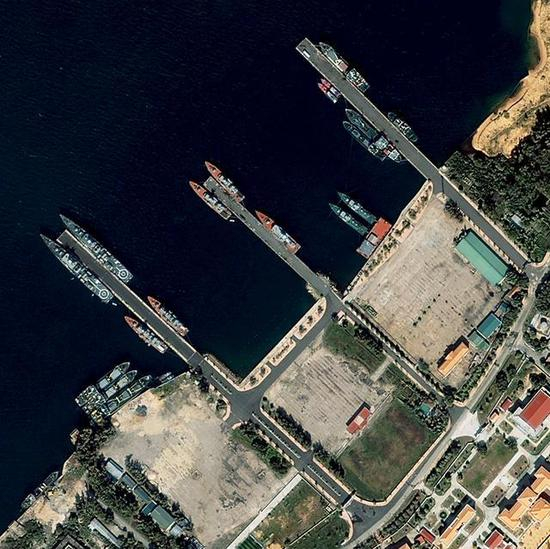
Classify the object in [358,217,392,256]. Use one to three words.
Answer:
pier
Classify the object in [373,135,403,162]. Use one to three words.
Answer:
ship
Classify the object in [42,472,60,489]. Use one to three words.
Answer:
boat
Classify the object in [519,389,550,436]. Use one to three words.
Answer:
building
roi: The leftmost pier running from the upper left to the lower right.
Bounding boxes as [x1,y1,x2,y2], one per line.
[57,229,204,366]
